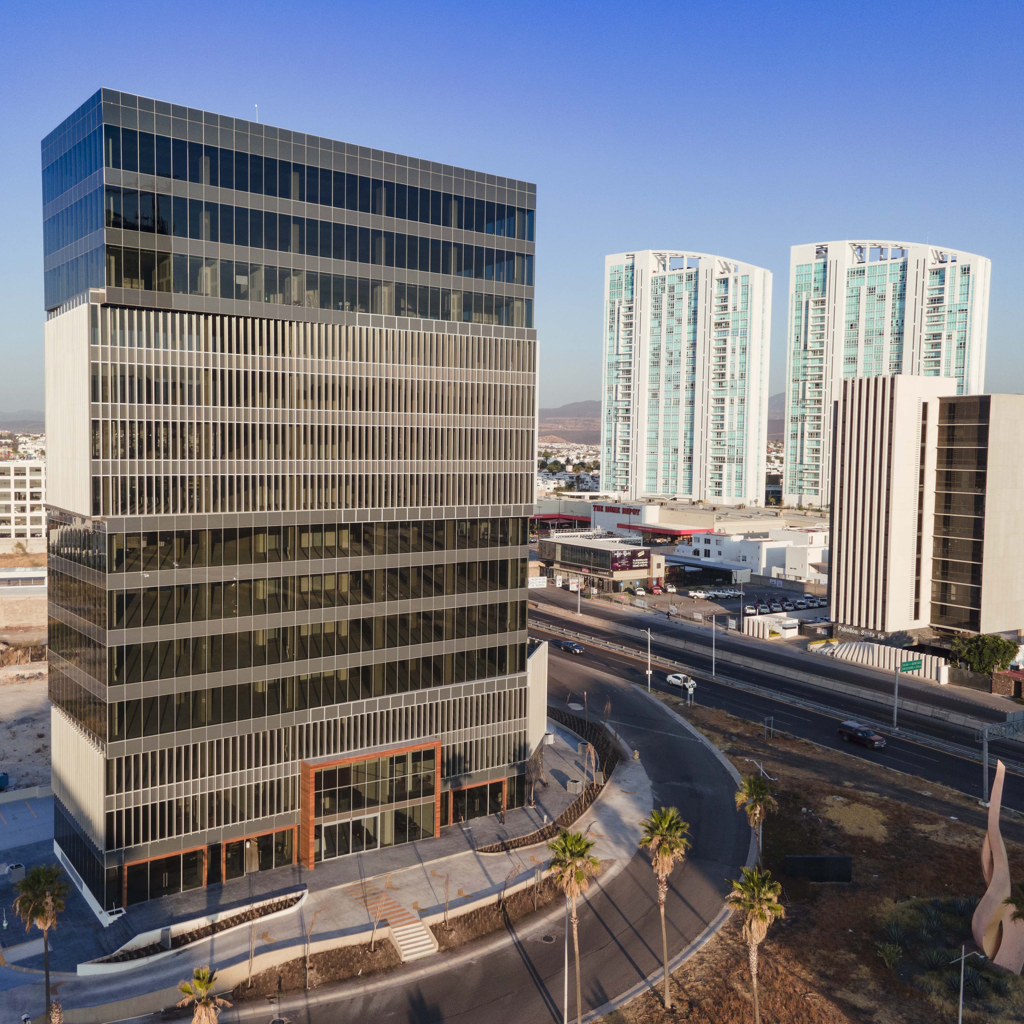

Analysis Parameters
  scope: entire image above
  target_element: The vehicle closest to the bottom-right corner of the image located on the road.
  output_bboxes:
[835,719,889,749]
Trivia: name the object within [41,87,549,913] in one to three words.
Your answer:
building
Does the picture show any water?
No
